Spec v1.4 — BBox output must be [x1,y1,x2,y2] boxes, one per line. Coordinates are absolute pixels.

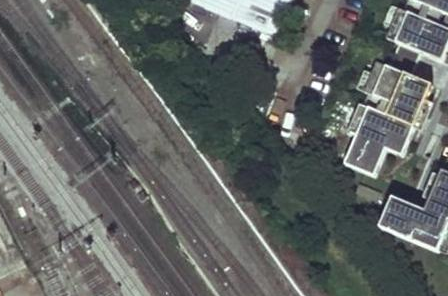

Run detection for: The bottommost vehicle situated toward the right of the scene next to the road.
[281,111,296,138]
